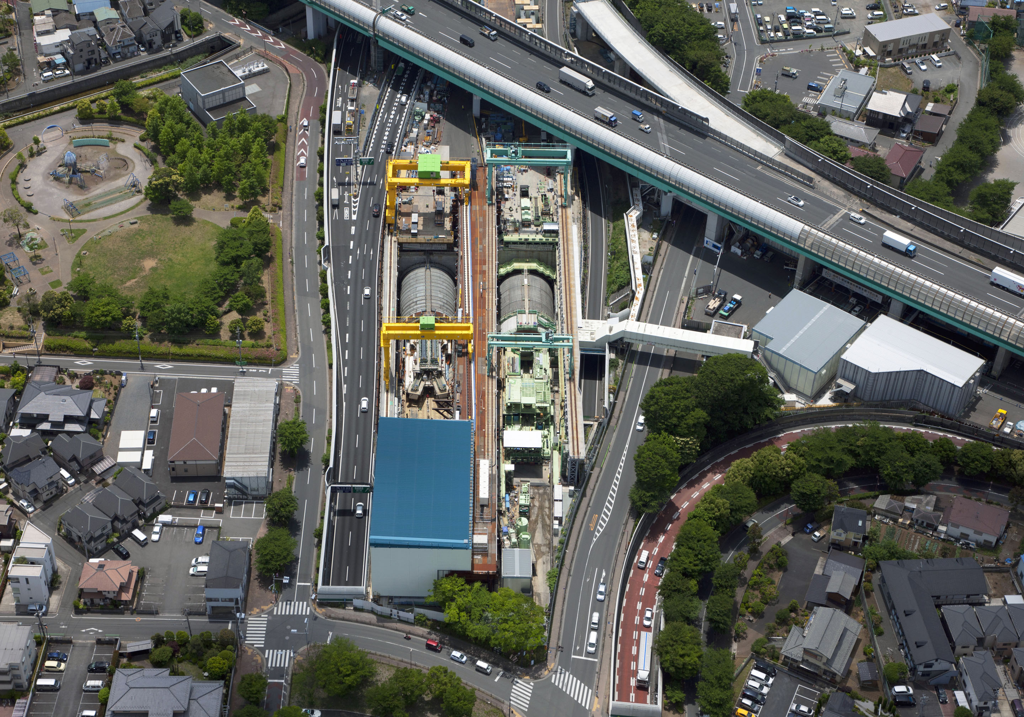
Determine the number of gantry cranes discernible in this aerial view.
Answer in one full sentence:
The picture shows 4 gantry cranes.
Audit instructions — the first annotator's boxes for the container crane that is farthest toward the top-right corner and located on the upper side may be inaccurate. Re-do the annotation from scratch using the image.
[485,138,573,211]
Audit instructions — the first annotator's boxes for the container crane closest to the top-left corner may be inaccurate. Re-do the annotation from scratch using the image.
[379,151,474,236]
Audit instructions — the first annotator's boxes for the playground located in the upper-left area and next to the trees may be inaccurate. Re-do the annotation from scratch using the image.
[17,137,155,219]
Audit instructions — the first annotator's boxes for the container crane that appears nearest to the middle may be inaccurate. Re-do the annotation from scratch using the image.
[483,312,578,383]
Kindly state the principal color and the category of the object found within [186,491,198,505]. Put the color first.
blue vehicle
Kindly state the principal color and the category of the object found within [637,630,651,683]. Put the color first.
white vehicle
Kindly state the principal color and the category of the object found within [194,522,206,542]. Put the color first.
blue vehicle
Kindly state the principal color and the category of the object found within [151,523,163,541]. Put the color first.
white vehicle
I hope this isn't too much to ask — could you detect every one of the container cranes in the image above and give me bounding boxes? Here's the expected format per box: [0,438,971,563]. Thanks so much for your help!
[485,138,573,211]
[379,151,474,236]
[483,312,578,383]
[379,314,476,395]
